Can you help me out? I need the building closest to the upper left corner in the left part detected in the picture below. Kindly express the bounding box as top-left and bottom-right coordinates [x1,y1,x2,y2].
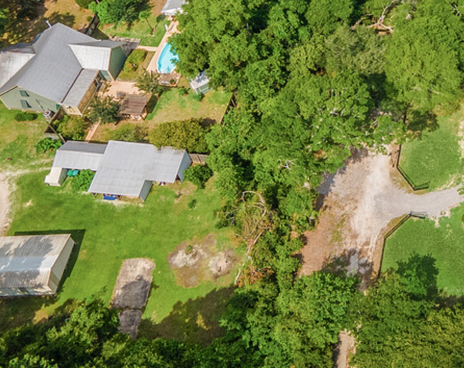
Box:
[0,18,129,116]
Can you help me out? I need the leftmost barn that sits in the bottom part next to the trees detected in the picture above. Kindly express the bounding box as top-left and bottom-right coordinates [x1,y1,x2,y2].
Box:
[0,234,76,298]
